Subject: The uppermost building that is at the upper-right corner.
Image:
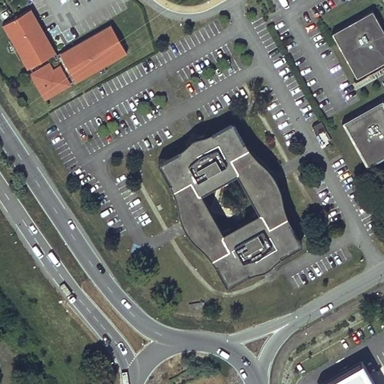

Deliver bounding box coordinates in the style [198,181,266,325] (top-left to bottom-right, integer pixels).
[332,13,384,81]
